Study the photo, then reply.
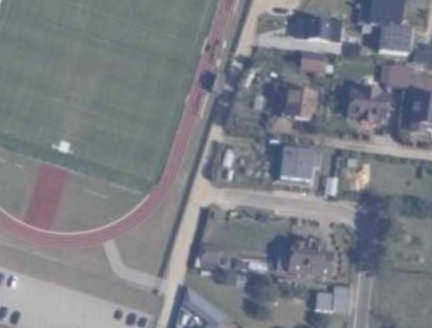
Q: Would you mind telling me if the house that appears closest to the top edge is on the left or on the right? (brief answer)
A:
right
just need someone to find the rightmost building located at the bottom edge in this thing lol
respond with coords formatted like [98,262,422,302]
[333,286,351,315]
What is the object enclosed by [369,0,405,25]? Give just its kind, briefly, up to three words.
house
